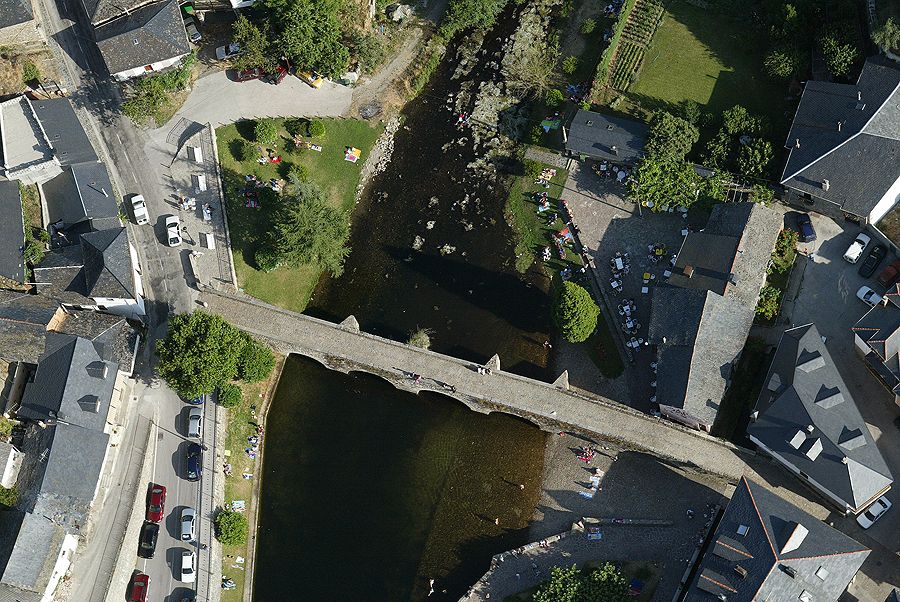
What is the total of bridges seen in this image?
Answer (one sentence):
I count just 1 bridge.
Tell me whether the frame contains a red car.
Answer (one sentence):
Yes, the picture does show a red car.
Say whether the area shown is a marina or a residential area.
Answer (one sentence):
This looks like a residential area.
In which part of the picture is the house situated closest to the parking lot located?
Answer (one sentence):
The house situated closest to the parking lot is in the top left part of the image.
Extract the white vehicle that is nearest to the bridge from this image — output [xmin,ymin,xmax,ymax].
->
[162,212,183,247]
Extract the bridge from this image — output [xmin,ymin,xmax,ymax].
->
[197,286,734,485]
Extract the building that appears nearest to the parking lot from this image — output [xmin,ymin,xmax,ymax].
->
[93,0,198,84]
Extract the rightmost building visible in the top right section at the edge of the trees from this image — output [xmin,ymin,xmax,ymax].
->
[780,58,900,234]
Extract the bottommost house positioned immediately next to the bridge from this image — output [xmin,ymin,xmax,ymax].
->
[664,476,872,602]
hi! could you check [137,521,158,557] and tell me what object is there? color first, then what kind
black car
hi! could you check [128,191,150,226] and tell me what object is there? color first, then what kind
white car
